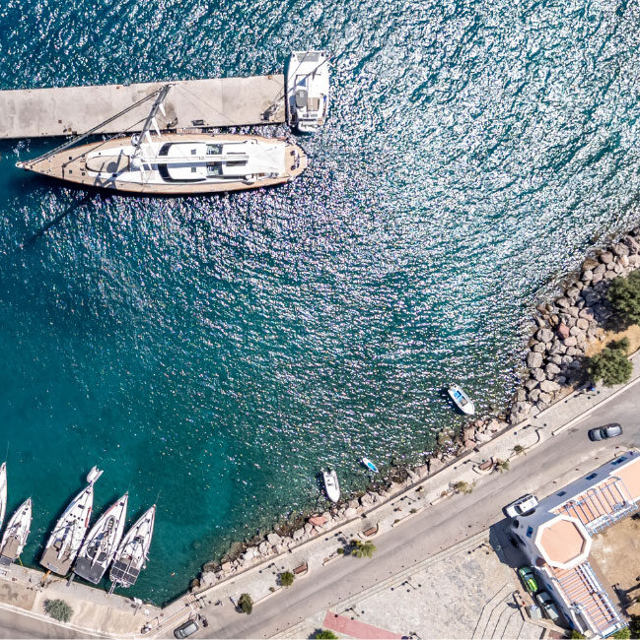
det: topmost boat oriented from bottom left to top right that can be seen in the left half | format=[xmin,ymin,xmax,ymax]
[87,464,103,486]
